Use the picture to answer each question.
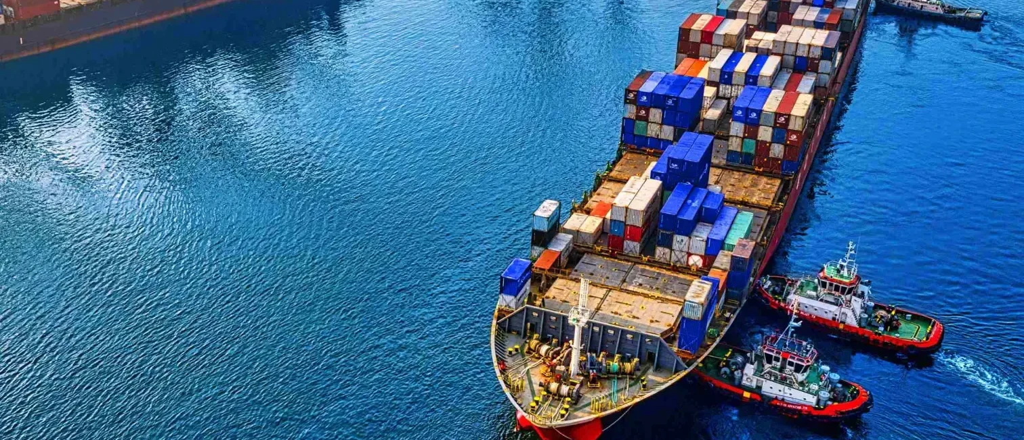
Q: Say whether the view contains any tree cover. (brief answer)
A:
No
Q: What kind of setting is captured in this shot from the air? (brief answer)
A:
port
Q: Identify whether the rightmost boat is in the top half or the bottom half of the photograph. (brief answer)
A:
top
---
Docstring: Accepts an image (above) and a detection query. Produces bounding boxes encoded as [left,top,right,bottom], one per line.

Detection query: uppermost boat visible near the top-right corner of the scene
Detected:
[872,0,989,30]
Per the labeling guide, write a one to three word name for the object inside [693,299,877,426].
boat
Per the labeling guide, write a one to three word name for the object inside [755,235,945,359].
boat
